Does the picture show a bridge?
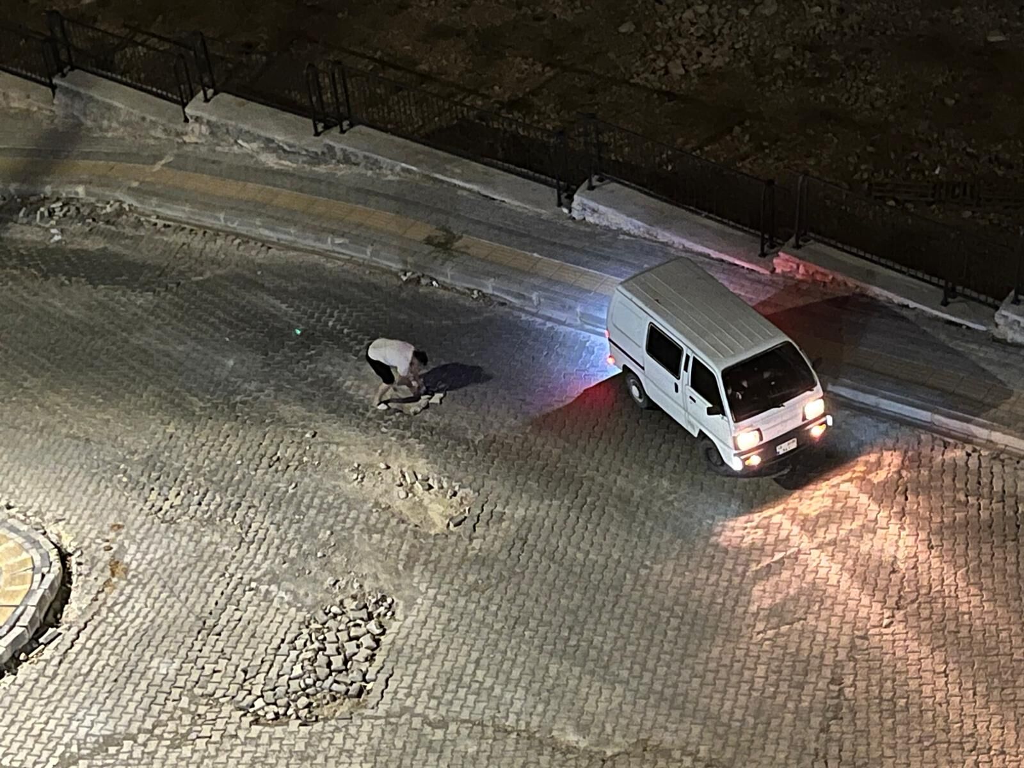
No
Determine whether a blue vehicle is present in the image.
No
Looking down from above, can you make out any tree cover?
No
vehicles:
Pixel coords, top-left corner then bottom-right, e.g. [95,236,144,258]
[612,262,833,473]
